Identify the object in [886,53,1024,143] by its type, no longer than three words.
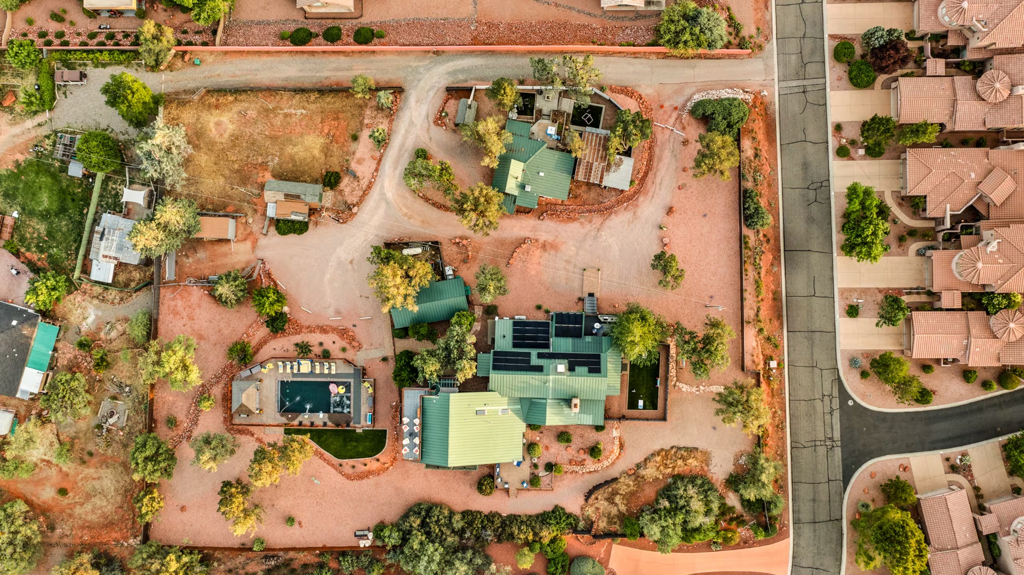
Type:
house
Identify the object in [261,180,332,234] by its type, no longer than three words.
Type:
barn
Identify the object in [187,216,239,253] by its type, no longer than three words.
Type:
shed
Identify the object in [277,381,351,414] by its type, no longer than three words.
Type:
swimming pool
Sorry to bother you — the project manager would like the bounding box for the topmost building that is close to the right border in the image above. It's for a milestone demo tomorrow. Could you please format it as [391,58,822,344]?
[906,0,1024,64]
